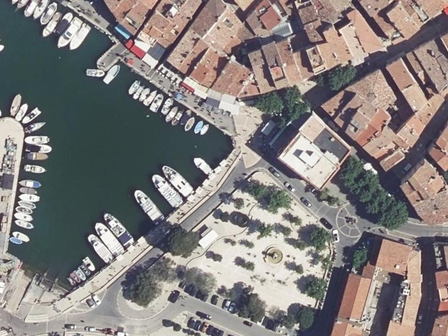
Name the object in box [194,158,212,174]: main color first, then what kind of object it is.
white boat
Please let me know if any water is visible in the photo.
Yes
